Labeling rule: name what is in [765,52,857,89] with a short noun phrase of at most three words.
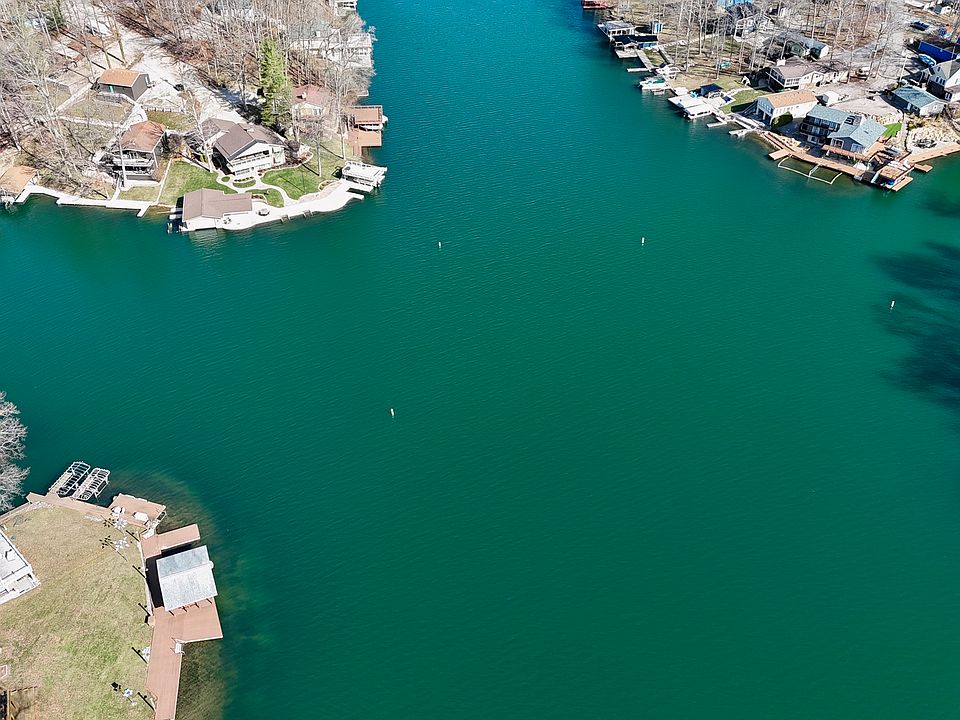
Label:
house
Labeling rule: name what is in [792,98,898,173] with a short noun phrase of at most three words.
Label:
house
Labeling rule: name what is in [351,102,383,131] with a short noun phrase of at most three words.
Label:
building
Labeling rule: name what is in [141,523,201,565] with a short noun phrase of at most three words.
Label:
pier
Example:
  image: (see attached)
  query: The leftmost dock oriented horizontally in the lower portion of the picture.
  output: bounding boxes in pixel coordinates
[25,492,110,520]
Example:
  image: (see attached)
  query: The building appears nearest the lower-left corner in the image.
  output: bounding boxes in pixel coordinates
[153,544,220,622]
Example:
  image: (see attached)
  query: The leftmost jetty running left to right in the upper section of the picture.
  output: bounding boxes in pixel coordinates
[32,184,158,222]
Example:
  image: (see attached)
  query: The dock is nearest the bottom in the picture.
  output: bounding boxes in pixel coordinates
[143,596,224,720]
